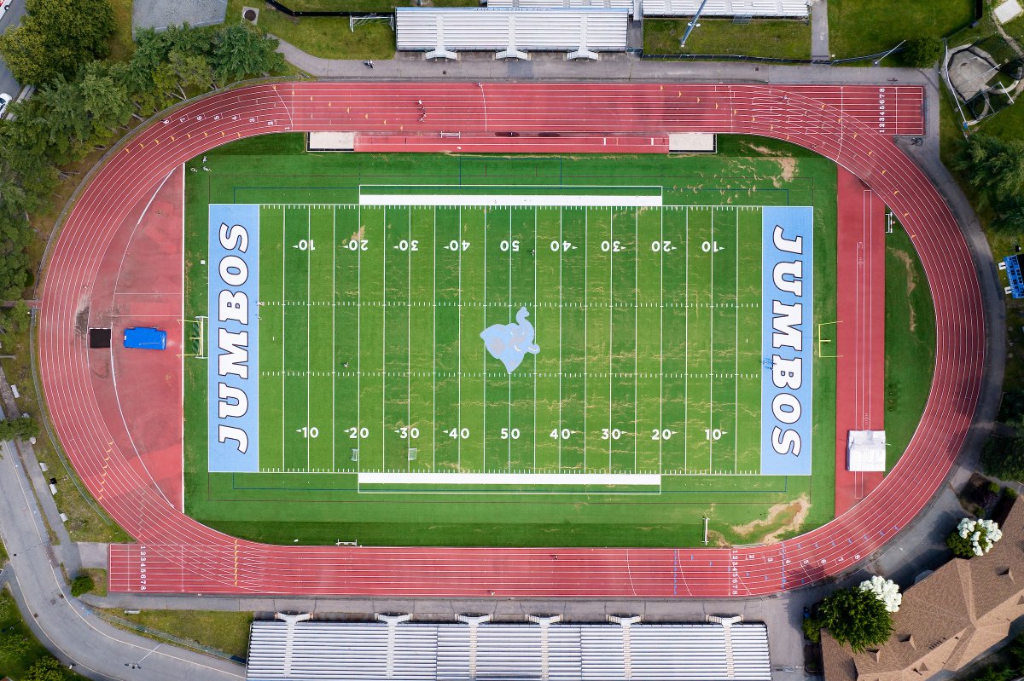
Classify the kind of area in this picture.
sports ground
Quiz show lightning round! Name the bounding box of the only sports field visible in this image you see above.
[184,132,936,547]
